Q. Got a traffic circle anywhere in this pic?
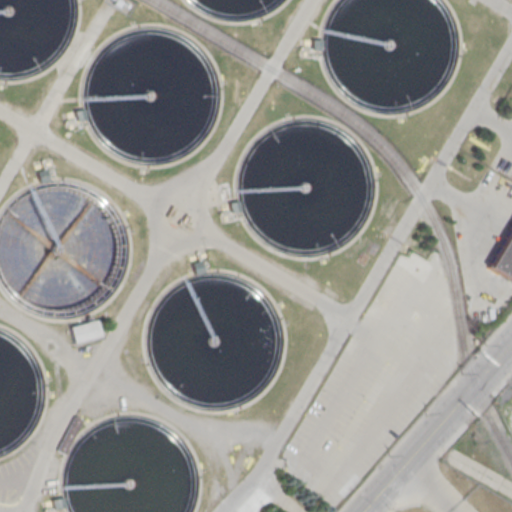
No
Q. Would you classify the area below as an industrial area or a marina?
industrial area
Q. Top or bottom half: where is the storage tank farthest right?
top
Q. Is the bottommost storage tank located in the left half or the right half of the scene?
left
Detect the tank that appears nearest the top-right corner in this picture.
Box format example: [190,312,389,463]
[319,0,462,118]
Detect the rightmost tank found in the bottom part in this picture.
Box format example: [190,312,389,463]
[142,268,287,415]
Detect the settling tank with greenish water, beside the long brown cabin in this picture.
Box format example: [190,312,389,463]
[58,411,204,512]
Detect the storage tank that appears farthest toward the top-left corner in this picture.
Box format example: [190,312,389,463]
[0,0,82,85]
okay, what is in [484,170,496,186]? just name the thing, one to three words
vehicle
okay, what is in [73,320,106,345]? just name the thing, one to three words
building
